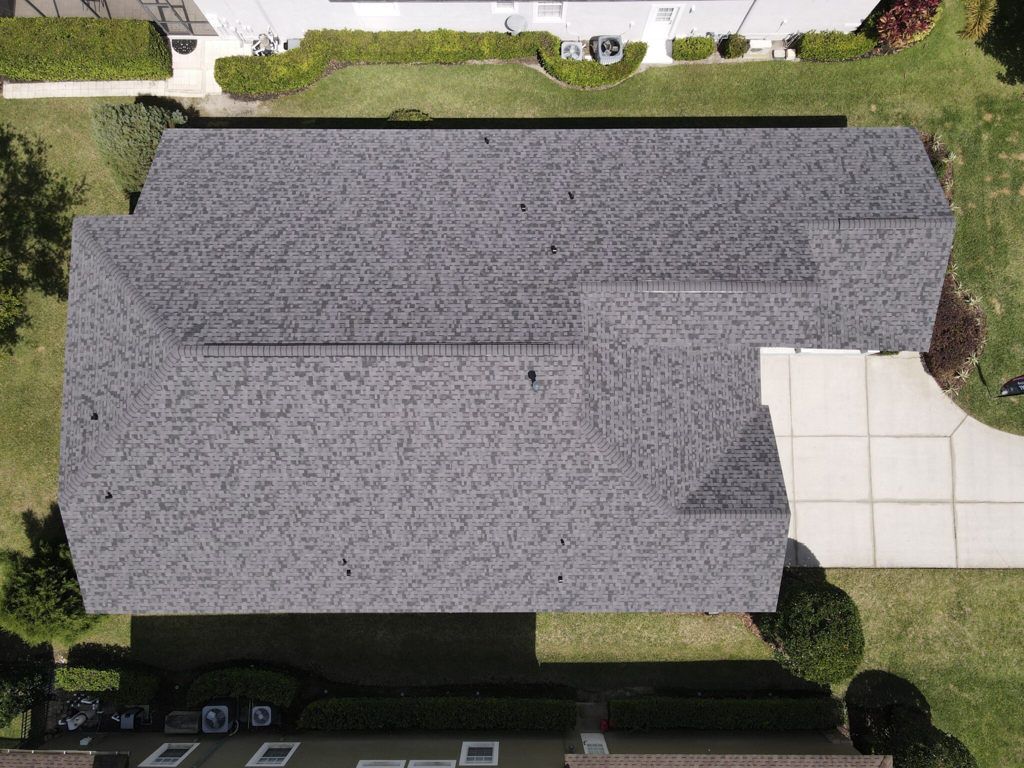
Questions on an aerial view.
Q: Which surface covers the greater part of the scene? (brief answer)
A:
buildings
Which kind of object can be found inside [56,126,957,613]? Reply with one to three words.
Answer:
house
